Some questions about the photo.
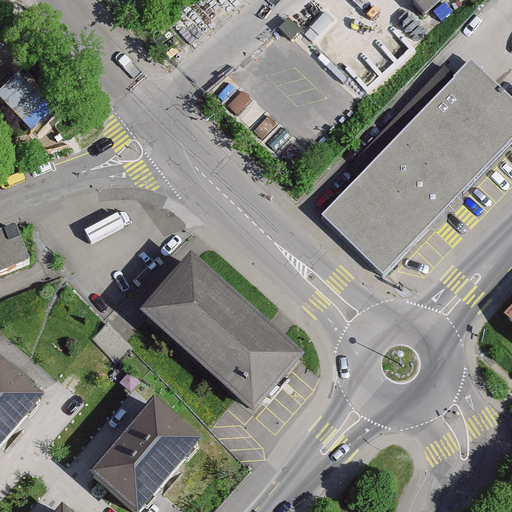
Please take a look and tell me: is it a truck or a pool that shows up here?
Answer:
truck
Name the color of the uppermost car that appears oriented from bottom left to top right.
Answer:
white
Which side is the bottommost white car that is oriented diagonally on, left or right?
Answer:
right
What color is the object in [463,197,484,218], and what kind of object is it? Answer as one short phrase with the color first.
blue car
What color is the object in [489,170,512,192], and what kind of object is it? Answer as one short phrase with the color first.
white vehicle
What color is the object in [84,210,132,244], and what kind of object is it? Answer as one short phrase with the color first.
white truck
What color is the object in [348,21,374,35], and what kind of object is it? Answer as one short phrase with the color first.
yellow work vehicle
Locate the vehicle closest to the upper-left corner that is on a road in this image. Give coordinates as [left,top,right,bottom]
[112,50,142,80]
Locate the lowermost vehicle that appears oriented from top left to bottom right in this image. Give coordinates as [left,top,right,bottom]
[89,292,108,312]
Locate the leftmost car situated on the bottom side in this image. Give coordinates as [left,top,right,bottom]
[63,396,84,416]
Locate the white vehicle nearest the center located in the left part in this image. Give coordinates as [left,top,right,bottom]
[162,234,184,256]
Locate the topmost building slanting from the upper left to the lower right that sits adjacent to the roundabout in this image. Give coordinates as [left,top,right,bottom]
[138,250,305,413]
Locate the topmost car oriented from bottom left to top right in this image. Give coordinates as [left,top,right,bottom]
[463,16,483,36]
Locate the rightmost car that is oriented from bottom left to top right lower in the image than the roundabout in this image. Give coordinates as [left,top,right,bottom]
[329,443,350,463]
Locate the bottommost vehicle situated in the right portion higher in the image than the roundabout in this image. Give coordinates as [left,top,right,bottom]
[404,258,430,275]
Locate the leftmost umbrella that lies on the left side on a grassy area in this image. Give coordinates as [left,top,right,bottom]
[120,374,140,392]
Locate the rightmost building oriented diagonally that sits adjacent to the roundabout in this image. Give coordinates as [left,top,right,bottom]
[322,59,512,278]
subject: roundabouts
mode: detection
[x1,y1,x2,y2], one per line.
[340,302,464,426]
